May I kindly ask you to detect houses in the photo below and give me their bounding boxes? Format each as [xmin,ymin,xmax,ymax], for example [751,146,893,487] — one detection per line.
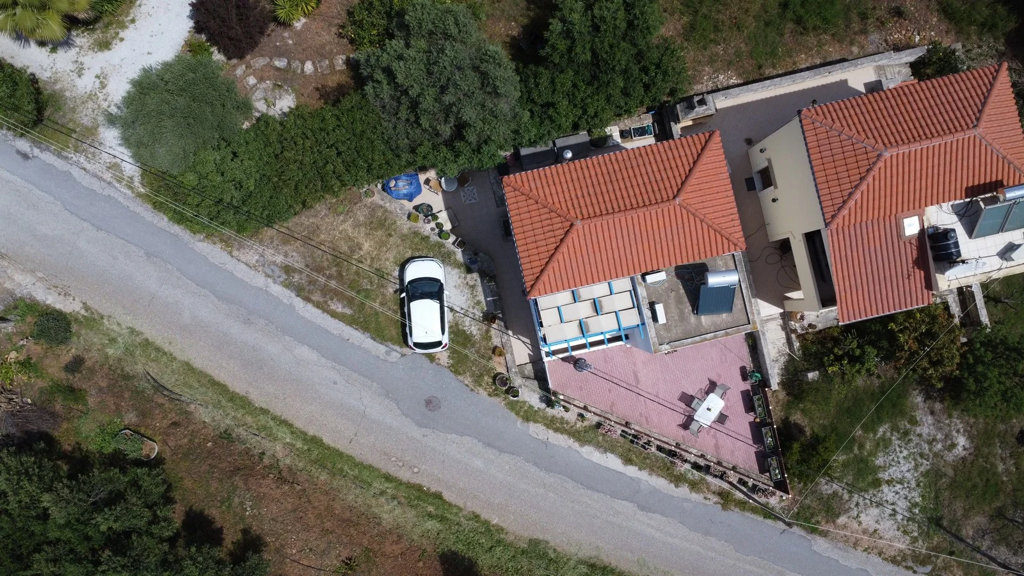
[499,127,759,361]
[746,59,1024,326]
